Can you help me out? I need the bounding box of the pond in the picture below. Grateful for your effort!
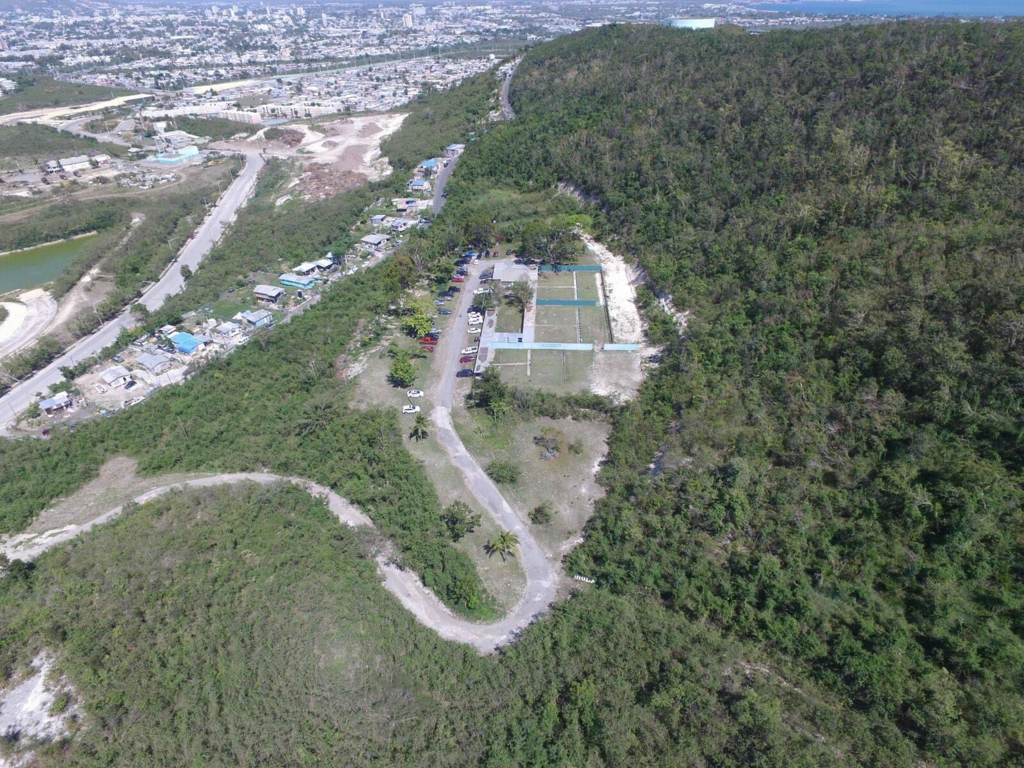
[0,237,86,293]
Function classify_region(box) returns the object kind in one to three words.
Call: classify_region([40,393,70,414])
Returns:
shed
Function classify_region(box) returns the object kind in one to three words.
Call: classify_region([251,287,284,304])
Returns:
house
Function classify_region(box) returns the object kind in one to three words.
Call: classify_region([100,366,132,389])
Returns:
house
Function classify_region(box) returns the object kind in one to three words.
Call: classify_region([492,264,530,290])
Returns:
building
